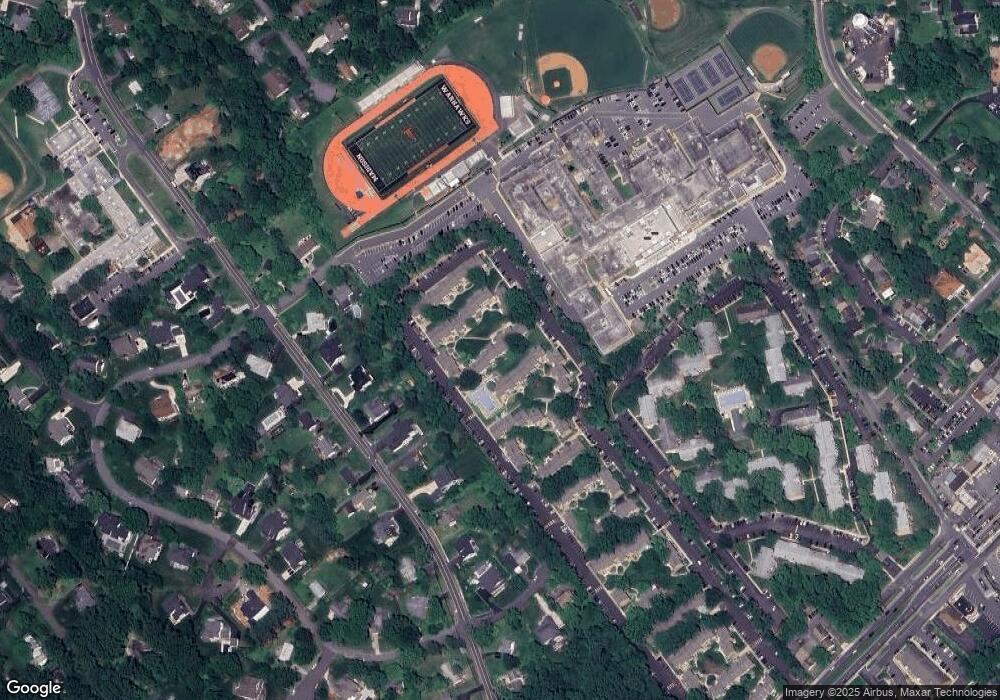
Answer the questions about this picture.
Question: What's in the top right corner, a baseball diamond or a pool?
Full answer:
You can see a baseball diamond in the top right corner.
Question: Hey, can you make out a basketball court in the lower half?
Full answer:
No, there's no basketball court to be seen in the lower half.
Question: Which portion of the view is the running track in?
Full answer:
The running track appears toward the top of the photo.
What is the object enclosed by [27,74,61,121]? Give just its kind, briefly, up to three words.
basketball court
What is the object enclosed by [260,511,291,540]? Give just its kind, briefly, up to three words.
house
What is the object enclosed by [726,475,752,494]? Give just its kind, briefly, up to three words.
building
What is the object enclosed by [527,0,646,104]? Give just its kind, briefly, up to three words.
baseball field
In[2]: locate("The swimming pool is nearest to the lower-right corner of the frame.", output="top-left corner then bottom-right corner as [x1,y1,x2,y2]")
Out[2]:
[713,385,752,418]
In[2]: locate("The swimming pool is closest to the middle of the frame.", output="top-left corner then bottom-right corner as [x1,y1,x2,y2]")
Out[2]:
[463,385,502,418]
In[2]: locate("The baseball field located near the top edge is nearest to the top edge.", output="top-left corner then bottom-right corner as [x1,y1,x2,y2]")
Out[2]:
[646,0,683,31]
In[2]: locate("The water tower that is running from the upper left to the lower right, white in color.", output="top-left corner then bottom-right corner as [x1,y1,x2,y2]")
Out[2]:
[853,13,884,46]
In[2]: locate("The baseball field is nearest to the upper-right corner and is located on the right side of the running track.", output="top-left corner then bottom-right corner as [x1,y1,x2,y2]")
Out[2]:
[725,7,814,86]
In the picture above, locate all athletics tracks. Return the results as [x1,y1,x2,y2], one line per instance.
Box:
[323,61,506,236]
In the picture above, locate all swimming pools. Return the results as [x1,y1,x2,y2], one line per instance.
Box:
[463,385,502,418]
[713,385,752,418]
